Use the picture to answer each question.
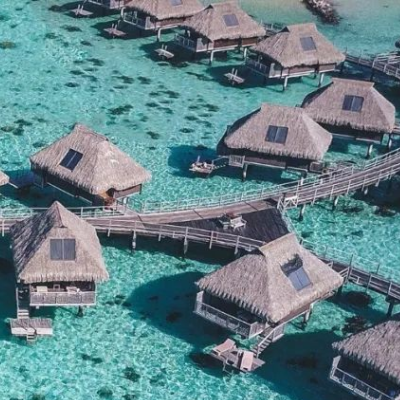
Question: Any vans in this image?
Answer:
No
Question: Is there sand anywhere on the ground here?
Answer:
No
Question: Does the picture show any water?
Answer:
Yes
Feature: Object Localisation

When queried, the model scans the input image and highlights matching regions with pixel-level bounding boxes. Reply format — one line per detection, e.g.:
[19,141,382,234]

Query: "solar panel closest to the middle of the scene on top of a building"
[264,124,288,144]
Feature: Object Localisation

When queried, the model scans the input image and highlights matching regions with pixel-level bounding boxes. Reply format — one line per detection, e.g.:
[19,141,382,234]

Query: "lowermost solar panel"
[284,264,310,293]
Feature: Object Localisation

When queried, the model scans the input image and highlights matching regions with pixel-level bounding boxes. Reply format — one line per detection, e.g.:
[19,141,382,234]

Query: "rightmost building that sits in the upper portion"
[302,78,395,152]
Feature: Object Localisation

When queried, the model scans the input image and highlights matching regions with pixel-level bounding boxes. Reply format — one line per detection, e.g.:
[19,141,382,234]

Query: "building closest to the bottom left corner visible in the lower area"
[10,202,109,338]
